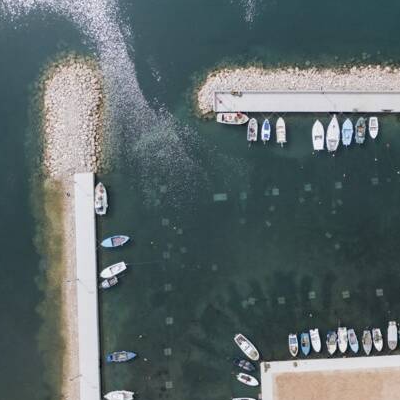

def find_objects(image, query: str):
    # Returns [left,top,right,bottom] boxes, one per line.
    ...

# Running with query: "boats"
[324,112,343,153]
[324,331,337,359]
[362,330,372,356]
[104,351,137,363]
[94,179,106,213]
[217,112,253,124]
[341,114,353,146]
[300,333,310,359]
[288,332,299,361]
[272,112,286,144]
[102,276,120,285]
[368,115,378,139]
[233,333,259,360]
[347,328,358,355]
[337,319,348,353]
[387,319,398,349]
[235,371,259,385]
[310,326,321,352]
[355,112,367,145]
[260,112,274,142]
[371,328,382,356]
[100,261,127,276]
[246,114,258,142]
[311,119,324,151]
[97,234,130,247]
[103,388,136,400]
[232,359,255,369]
